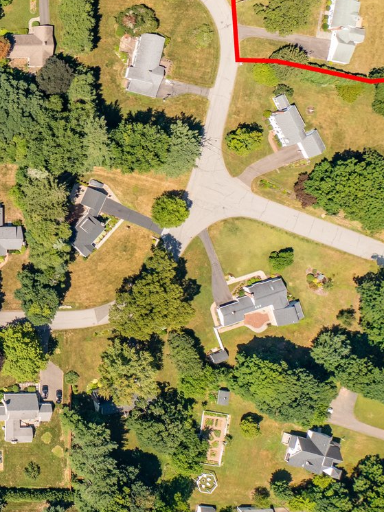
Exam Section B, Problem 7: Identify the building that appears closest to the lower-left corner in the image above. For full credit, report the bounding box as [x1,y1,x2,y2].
[0,391,55,444]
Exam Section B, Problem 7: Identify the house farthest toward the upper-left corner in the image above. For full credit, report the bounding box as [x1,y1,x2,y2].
[7,23,55,67]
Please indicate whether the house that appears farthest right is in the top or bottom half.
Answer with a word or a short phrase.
top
